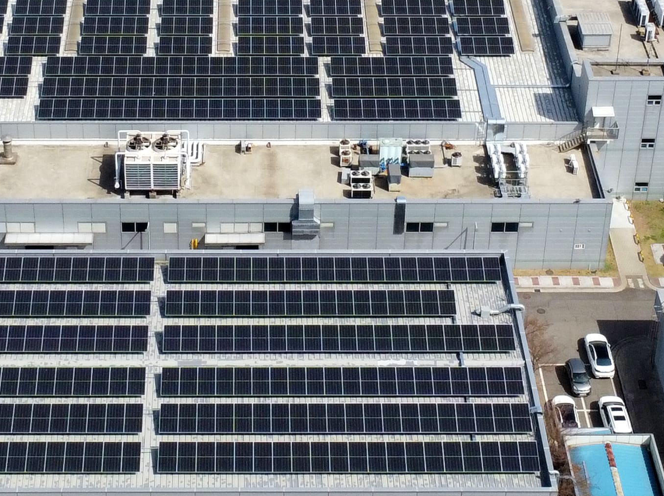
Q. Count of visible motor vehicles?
4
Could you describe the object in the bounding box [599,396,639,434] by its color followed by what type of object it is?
white car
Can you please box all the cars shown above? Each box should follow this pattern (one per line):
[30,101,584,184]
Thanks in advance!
[584,334,617,380]
[564,355,596,399]
[551,396,585,444]
[599,396,639,434]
